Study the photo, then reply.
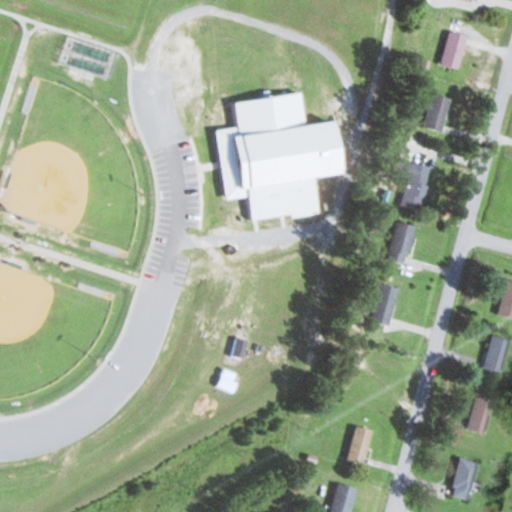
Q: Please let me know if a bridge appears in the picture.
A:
No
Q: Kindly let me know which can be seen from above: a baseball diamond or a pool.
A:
baseball diamond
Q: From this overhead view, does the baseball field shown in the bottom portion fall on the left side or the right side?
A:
left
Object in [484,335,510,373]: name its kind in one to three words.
house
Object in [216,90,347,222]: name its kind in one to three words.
building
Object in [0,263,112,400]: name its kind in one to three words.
baseball field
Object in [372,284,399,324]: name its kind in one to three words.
house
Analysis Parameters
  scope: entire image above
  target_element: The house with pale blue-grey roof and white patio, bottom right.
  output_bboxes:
[452,458,479,502]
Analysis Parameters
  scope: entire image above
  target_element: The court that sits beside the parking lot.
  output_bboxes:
[58,36,116,80]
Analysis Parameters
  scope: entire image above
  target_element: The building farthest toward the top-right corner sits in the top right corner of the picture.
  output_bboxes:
[442,32,468,70]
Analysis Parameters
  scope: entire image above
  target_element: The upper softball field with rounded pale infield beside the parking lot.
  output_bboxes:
[0,78,138,254]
